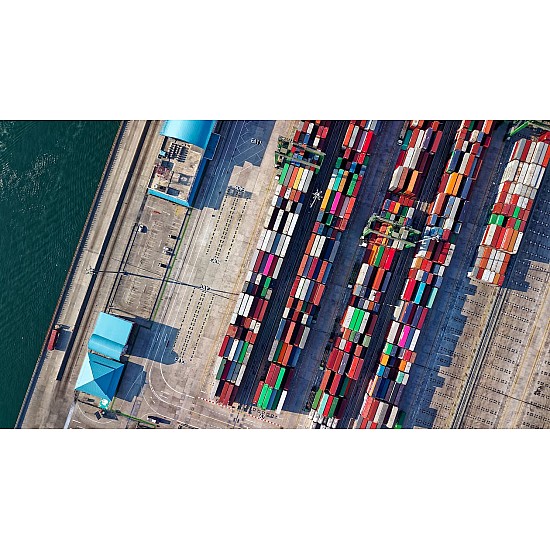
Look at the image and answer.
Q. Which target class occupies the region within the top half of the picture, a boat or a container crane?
container crane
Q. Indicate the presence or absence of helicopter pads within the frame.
No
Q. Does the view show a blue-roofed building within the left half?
Yes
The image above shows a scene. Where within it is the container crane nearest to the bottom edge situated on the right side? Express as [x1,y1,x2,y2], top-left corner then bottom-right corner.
[359,212,422,254]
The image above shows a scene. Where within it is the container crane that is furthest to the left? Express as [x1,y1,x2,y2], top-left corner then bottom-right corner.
[272,134,329,182]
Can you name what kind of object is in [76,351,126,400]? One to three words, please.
building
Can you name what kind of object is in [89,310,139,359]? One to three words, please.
shed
